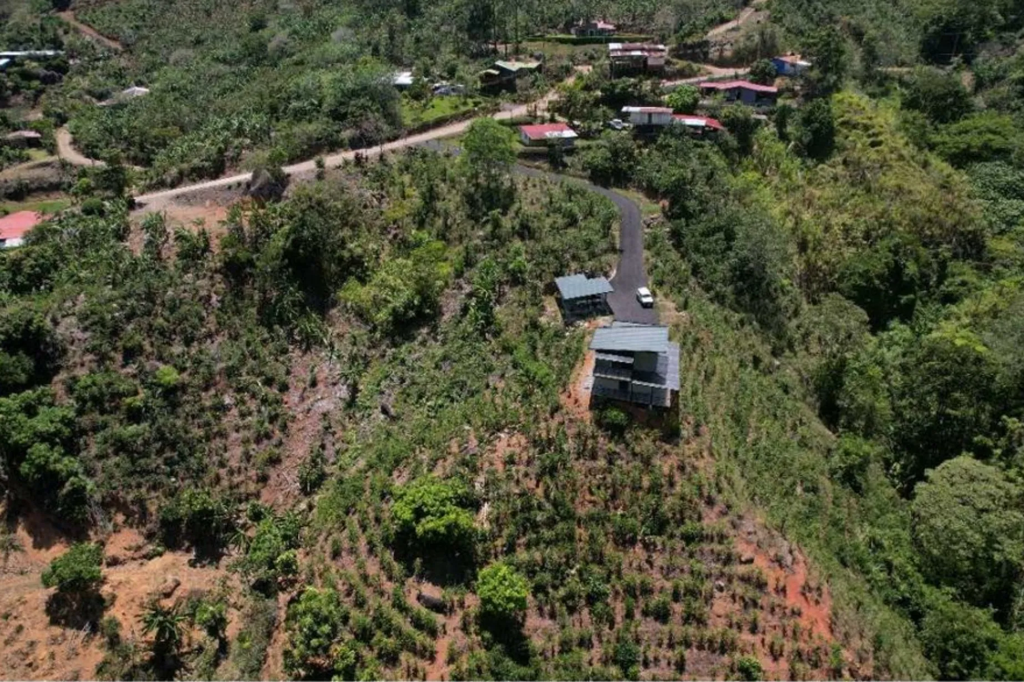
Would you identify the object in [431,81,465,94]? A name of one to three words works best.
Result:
shed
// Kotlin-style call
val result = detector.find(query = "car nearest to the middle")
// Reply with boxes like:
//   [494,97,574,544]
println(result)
[636,285,653,304]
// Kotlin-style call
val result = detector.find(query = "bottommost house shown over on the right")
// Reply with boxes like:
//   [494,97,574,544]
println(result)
[584,324,683,427]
